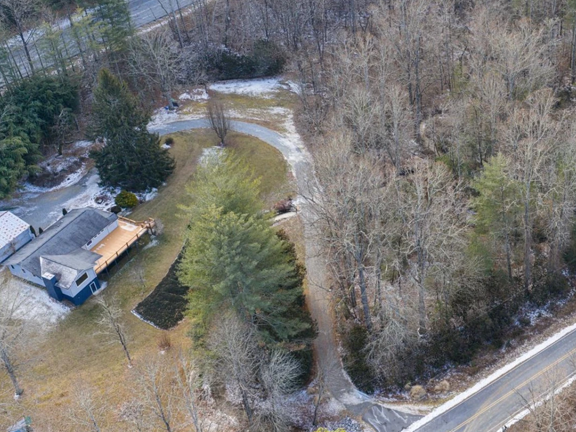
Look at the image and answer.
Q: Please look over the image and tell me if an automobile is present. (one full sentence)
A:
No, no automobile can be seen from above.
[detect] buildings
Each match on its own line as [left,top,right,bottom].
[3,207,161,306]
[0,211,32,260]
